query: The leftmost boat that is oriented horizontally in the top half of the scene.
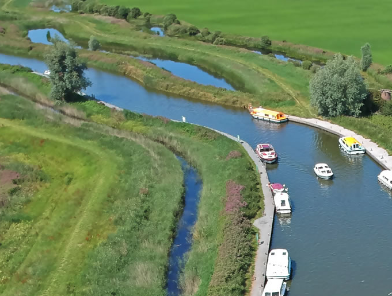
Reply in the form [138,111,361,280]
[245,105,289,122]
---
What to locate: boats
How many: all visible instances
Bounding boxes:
[253,139,281,165]
[262,244,295,285]
[273,191,294,218]
[371,167,392,192]
[245,105,289,122]
[337,133,366,155]
[262,272,289,296]
[311,159,332,182]
[271,179,285,196]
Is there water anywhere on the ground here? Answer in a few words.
Yes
